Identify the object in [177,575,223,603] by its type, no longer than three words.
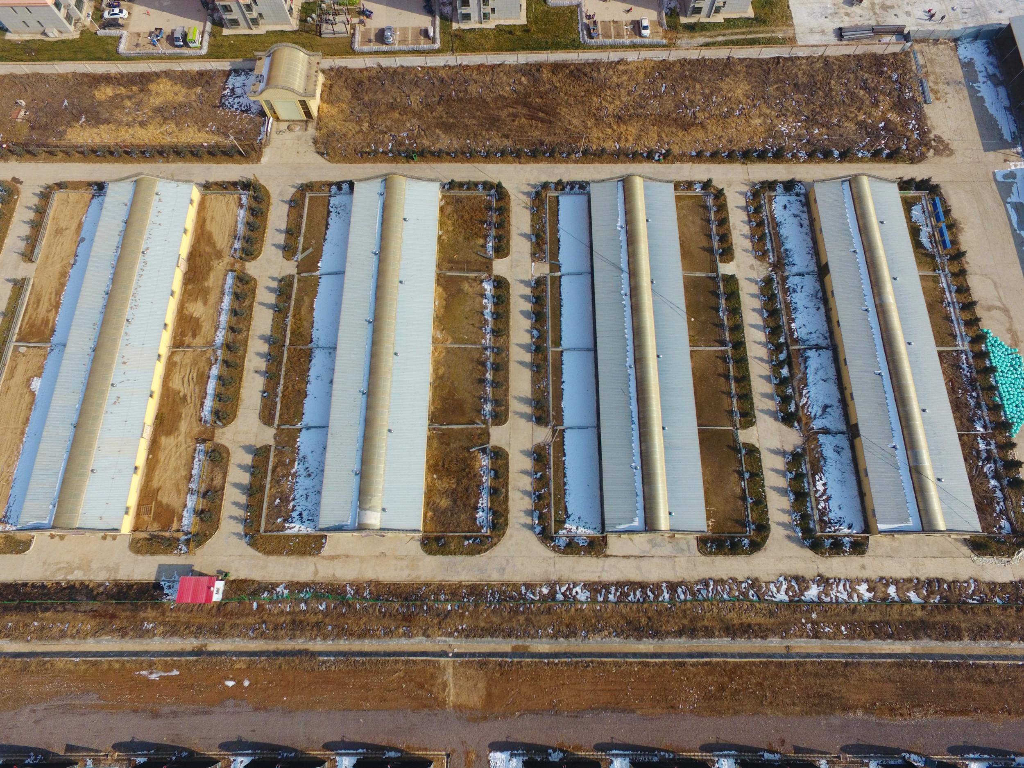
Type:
shed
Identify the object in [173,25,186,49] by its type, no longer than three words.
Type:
vehicle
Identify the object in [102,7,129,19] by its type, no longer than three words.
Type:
vehicle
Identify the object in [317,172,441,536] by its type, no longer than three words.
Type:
barn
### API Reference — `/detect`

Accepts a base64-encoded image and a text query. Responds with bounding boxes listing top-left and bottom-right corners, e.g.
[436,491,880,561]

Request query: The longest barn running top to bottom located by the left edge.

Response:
[15,172,200,536]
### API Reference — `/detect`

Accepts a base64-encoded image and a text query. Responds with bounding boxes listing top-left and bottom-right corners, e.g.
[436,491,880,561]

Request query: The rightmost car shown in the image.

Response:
[638,17,651,38]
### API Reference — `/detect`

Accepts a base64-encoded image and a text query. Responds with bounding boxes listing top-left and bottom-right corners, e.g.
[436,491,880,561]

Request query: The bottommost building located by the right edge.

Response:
[805,172,986,536]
